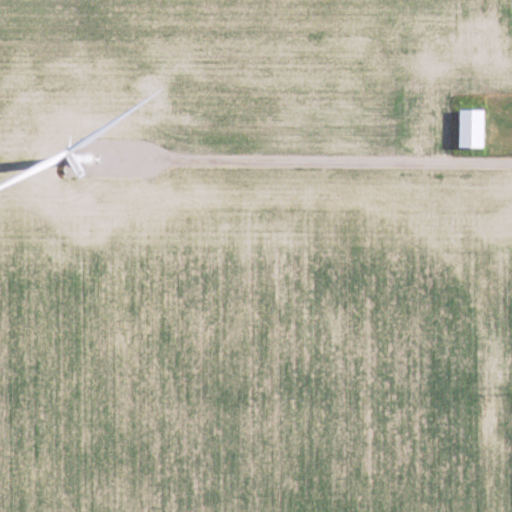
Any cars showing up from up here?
No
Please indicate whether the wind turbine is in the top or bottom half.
top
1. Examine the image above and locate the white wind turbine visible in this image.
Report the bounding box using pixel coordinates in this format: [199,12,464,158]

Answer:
[0,88,158,186]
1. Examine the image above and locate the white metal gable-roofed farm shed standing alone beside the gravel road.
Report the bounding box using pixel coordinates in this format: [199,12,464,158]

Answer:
[459,109,486,150]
